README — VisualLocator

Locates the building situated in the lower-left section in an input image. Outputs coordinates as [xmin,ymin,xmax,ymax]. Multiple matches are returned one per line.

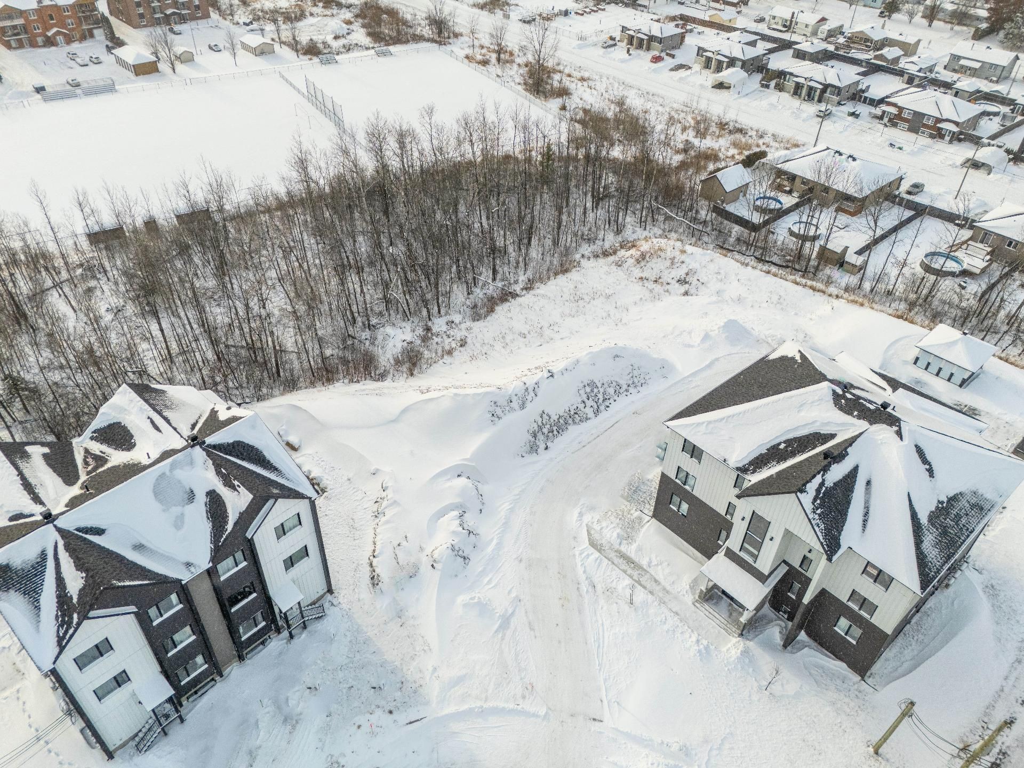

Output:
[0,380,332,759]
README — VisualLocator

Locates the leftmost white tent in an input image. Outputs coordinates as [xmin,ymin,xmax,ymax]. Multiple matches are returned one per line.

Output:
[713,70,751,94]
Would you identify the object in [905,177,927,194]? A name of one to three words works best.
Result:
car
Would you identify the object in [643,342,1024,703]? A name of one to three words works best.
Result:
building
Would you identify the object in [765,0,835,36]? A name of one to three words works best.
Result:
house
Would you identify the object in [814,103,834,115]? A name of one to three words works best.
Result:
vehicle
